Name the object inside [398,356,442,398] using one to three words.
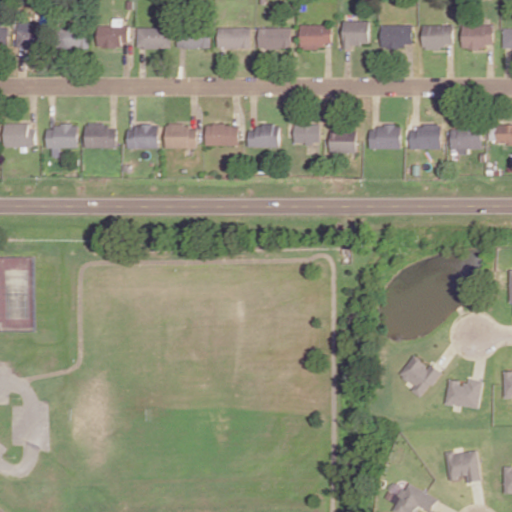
house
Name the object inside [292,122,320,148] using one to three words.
house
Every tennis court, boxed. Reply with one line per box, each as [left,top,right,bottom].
[0,257,35,330]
